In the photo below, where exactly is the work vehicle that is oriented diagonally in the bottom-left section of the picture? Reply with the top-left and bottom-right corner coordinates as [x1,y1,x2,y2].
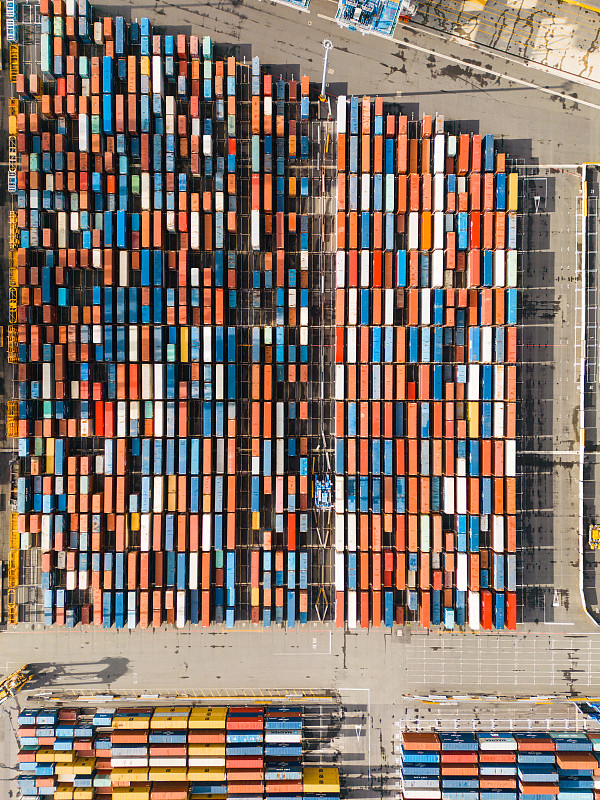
[0,662,34,705]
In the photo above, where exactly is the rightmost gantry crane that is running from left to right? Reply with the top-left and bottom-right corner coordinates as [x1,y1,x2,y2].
[335,0,423,41]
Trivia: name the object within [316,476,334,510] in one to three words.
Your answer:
work vehicle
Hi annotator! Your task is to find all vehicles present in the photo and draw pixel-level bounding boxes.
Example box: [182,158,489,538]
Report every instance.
[588,525,600,549]
[316,476,334,510]
[0,662,34,705]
